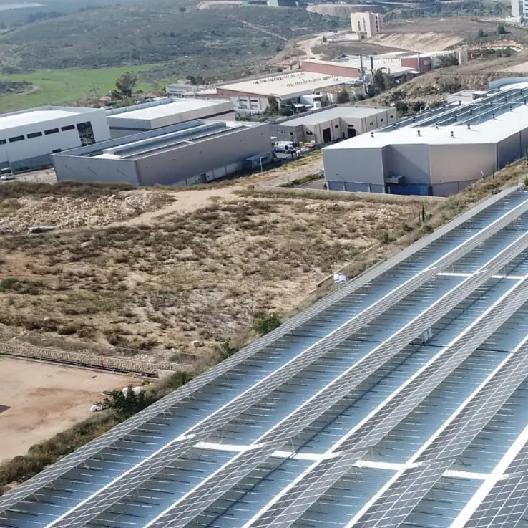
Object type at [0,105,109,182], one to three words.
building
